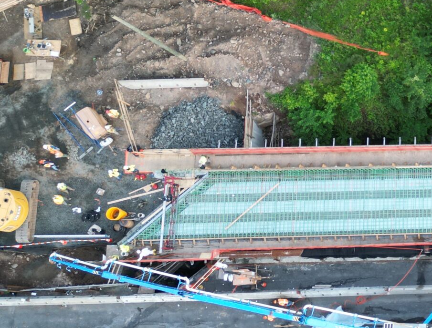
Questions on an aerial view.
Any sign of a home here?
No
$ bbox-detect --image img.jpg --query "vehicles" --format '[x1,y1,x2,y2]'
[0,180,43,243]
[47,253,432,328]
